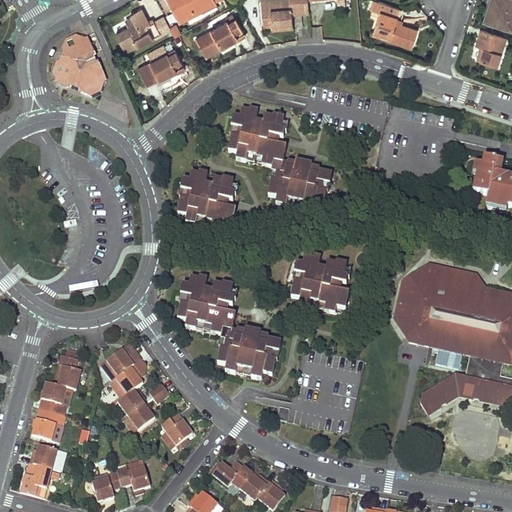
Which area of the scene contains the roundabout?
left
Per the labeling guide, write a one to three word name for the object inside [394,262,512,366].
building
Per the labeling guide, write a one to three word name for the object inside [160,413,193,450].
house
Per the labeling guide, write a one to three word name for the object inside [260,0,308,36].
house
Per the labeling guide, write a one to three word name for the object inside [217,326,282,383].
building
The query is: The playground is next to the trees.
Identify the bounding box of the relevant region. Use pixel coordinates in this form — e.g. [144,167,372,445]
[450,406,512,466]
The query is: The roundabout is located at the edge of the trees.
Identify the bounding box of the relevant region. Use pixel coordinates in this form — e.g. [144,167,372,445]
[0,100,169,340]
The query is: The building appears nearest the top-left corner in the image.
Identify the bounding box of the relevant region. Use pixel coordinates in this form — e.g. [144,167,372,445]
[52,32,106,97]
